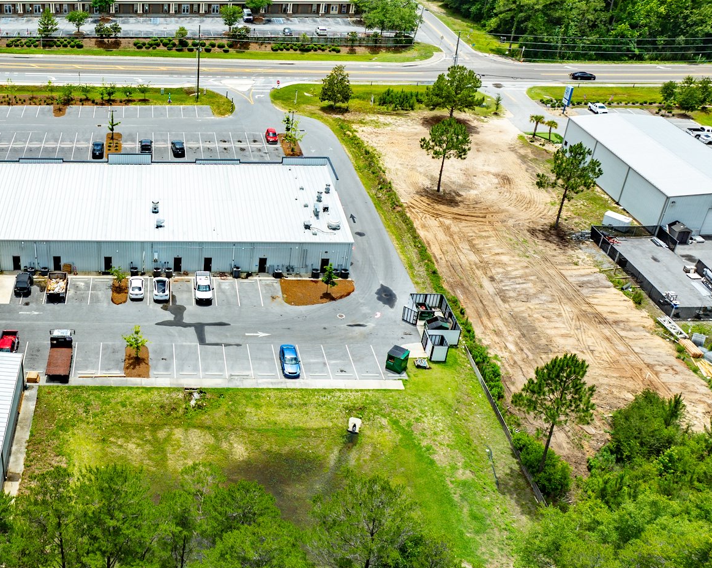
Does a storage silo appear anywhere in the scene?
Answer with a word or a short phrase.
No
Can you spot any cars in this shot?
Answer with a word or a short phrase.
Yes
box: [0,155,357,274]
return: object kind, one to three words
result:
building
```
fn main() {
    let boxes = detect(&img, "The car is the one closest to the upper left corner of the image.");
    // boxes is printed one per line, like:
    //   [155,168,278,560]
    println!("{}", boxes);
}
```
[90,142,105,161]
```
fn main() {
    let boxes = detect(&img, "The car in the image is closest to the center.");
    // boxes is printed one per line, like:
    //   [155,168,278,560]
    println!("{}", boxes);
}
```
[278,344,303,376]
